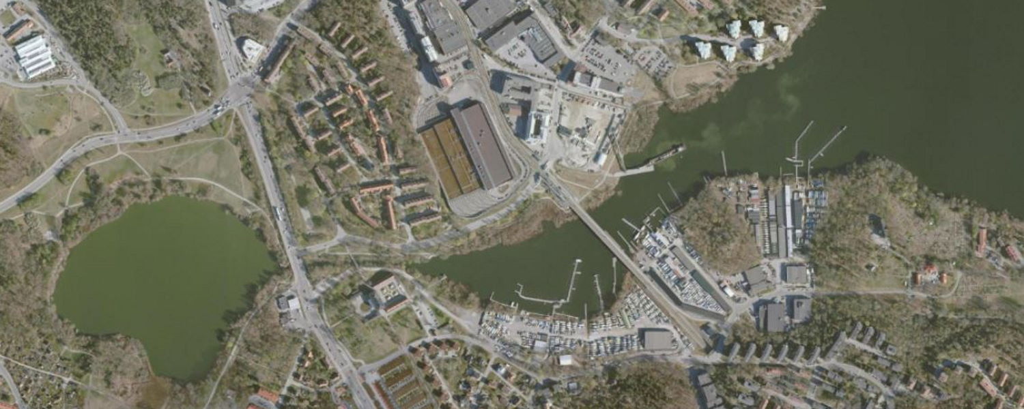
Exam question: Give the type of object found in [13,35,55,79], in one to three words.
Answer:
building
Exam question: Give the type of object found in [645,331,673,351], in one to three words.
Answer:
shed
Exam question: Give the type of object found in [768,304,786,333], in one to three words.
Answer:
building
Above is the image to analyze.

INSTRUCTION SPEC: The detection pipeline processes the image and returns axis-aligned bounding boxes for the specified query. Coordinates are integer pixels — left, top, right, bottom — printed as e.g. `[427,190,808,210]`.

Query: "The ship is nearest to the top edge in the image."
[640,146,684,169]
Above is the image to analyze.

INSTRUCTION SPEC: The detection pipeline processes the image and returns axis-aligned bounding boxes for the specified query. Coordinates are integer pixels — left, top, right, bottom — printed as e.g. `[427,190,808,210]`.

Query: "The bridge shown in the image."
[537,169,711,352]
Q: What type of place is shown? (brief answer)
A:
port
